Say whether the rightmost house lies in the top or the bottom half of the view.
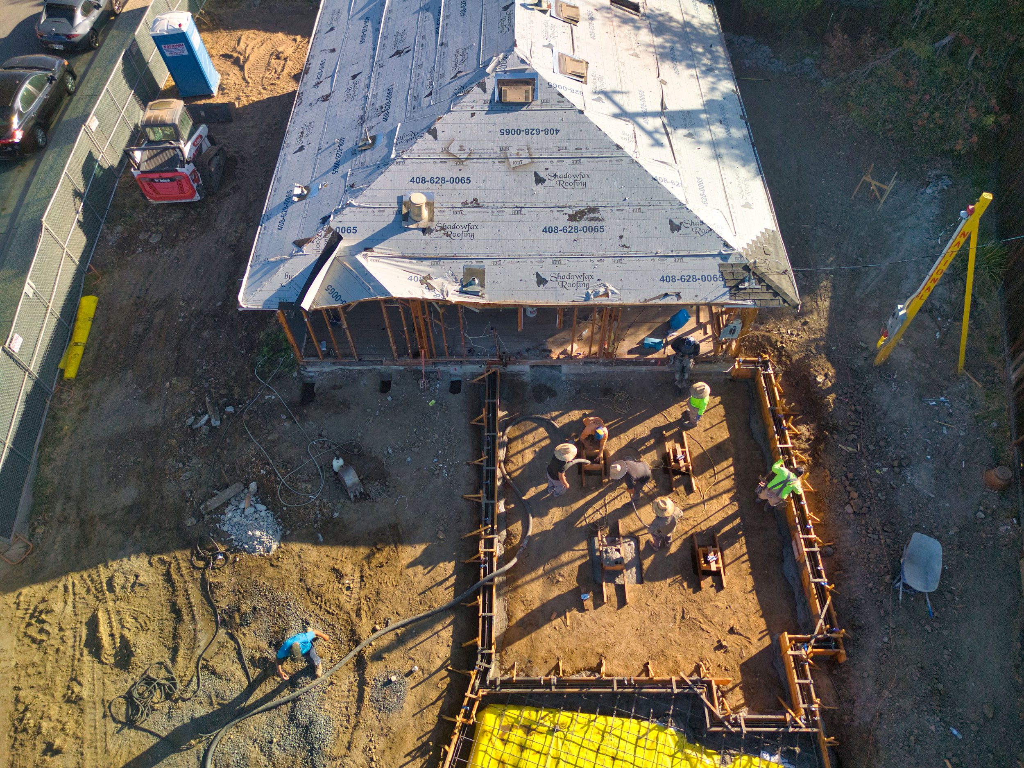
top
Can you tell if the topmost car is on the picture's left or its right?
left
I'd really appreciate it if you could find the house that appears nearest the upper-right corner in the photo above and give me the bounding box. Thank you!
[236,0,806,393]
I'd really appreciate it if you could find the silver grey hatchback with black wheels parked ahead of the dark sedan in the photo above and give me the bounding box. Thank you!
[23,0,125,55]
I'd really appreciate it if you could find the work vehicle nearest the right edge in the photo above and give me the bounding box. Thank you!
[108,87,239,199]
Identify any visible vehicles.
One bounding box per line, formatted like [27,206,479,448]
[0,54,76,154]
[23,0,125,55]
[108,87,239,199]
